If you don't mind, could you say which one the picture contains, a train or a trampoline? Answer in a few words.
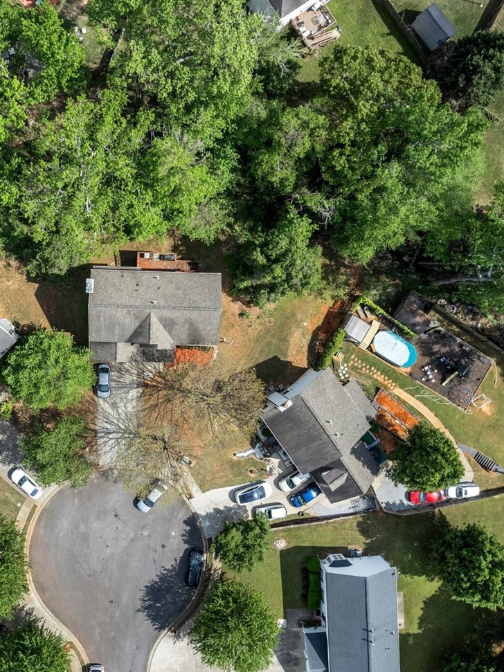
trampoline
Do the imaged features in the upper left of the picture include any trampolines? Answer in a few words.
No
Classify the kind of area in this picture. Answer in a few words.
residential area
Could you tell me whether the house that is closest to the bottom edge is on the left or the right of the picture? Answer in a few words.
right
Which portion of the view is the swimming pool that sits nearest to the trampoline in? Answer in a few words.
right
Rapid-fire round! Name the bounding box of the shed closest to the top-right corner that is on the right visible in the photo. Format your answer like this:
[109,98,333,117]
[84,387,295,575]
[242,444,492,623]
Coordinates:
[409,3,456,54]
